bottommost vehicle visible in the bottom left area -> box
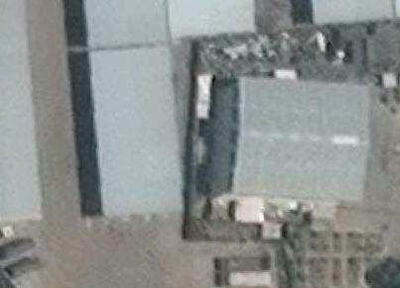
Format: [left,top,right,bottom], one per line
[6,257,43,279]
